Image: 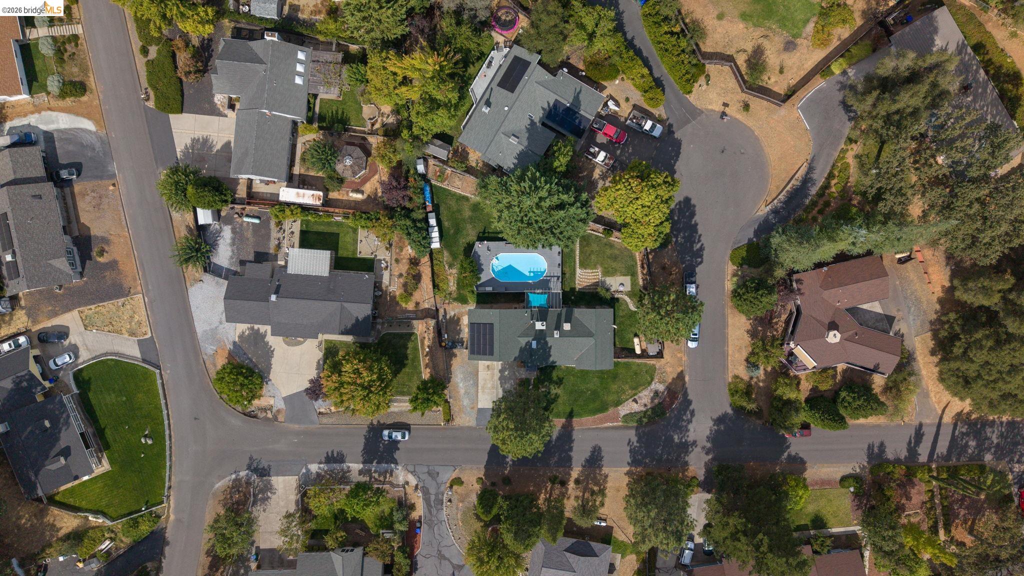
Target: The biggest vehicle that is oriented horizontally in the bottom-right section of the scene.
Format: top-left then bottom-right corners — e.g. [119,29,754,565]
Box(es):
[783,428,813,441]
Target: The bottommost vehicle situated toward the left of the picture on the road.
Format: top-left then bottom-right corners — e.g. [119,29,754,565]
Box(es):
[382,428,409,441]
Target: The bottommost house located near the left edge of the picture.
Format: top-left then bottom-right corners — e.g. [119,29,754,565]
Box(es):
[0,345,104,500]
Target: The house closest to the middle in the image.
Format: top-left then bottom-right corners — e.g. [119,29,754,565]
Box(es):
[468,307,614,370]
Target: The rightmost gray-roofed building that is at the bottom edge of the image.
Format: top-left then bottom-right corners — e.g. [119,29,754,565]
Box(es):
[532,535,612,576]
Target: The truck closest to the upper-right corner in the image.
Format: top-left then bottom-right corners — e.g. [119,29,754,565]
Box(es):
[625,111,663,137]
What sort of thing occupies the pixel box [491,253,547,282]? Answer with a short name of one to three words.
swimming pool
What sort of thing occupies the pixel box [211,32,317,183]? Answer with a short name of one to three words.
house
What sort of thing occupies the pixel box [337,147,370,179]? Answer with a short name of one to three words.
gazebo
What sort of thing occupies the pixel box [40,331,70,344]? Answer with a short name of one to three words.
vehicle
